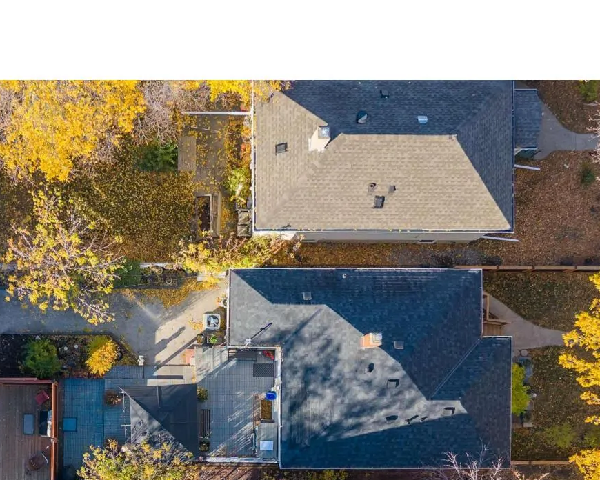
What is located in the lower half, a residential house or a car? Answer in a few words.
residential house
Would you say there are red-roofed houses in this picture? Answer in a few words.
No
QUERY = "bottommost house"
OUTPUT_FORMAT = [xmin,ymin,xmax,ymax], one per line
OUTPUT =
[227,268,513,472]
